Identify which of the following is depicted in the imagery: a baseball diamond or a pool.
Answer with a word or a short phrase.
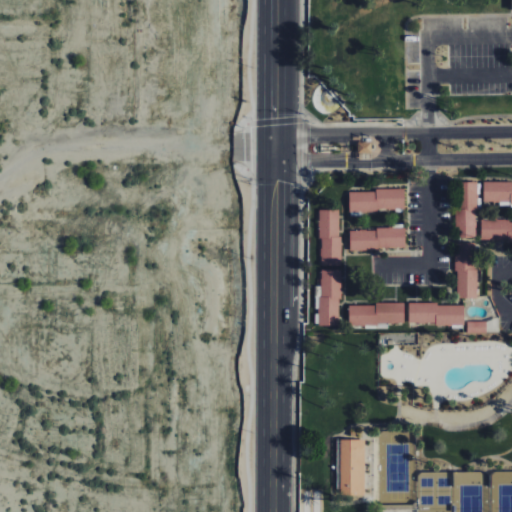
pool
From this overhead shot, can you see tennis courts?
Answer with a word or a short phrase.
Yes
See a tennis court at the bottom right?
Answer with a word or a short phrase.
Yes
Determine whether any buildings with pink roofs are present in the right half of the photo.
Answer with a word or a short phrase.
Yes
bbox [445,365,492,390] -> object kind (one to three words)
swimming pool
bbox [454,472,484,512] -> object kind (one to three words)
tennis court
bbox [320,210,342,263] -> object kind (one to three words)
building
